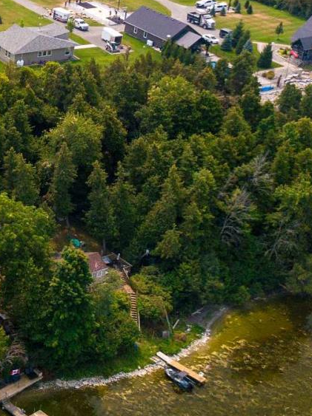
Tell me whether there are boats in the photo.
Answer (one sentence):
Yes, the frame does contain a boat.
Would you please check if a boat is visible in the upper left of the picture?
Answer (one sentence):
No, no boat is visible in the upper left of the picture.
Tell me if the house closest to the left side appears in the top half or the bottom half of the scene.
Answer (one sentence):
It is in the top half that the house closest to the left side appears.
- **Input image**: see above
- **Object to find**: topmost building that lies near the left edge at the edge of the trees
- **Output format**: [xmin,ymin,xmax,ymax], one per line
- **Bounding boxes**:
[0,21,77,65]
